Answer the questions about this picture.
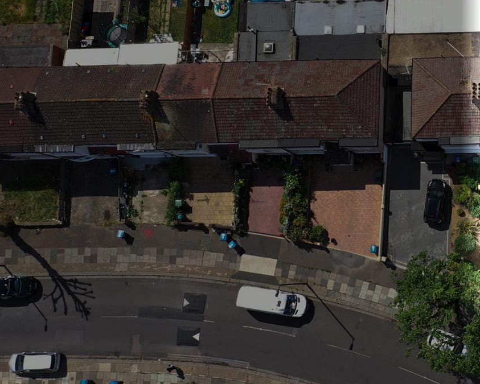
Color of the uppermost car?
black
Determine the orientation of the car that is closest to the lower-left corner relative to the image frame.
from left to right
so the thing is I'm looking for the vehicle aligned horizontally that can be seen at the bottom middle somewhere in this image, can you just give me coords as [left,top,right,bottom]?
[231,284,309,322]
